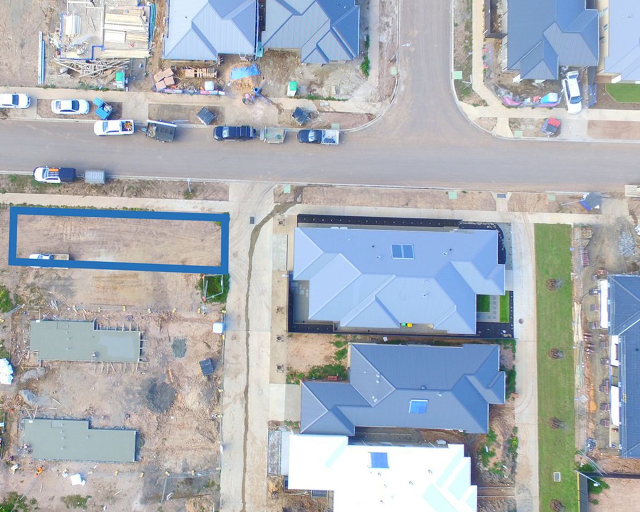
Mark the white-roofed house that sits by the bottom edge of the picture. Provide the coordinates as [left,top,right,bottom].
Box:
[287,432,477,512]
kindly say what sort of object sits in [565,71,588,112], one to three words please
car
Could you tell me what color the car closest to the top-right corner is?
white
